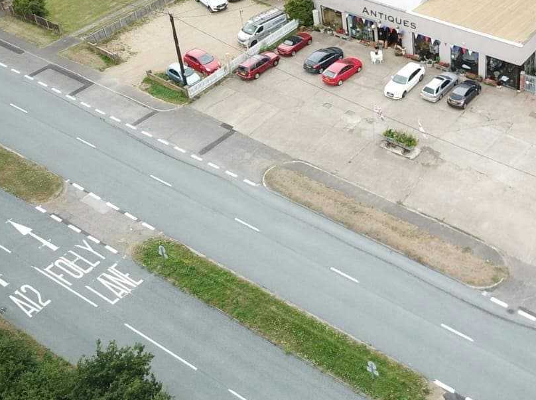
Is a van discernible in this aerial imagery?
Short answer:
Yes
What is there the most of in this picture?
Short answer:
paved ground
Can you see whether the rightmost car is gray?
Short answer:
Yes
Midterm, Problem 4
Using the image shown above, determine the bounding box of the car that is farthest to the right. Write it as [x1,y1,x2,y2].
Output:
[443,78,481,110]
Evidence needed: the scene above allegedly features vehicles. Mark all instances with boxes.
[198,0,229,12]
[236,50,282,81]
[180,46,220,74]
[420,69,459,101]
[300,44,343,74]
[273,30,313,57]
[238,6,283,44]
[443,78,481,110]
[320,57,363,86]
[386,63,425,97]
